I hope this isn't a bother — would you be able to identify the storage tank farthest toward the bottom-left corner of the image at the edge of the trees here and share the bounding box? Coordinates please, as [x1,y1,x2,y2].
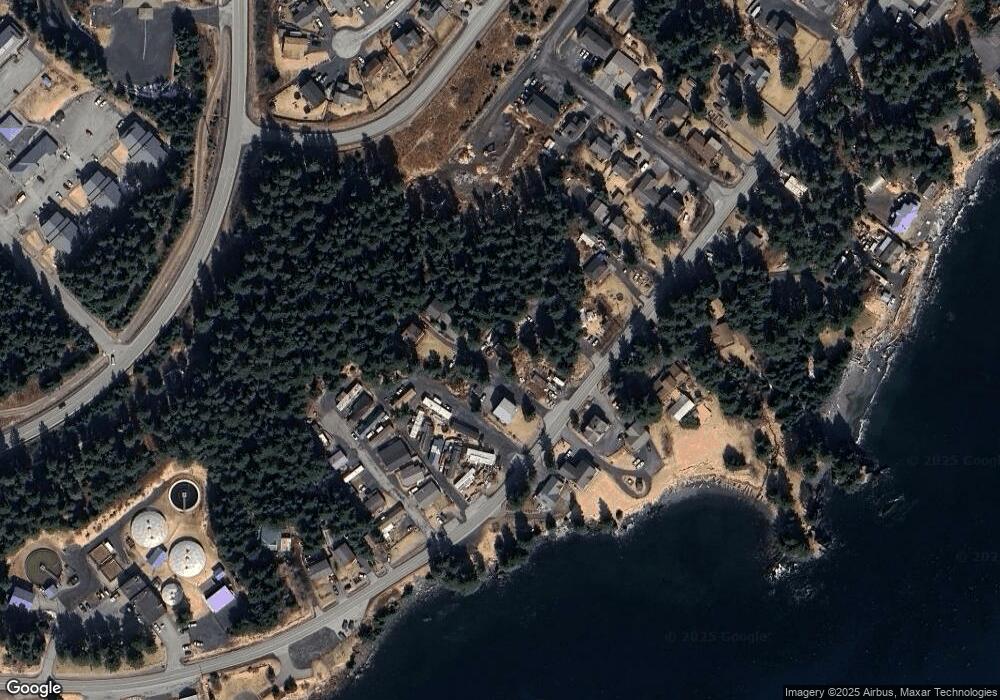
[24,549,62,586]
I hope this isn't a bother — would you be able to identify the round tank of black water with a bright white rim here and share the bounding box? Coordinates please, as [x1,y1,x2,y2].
[169,480,200,511]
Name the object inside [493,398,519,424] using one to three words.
barn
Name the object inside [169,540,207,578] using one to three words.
storage tank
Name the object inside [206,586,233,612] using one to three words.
building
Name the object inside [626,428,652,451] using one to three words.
house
